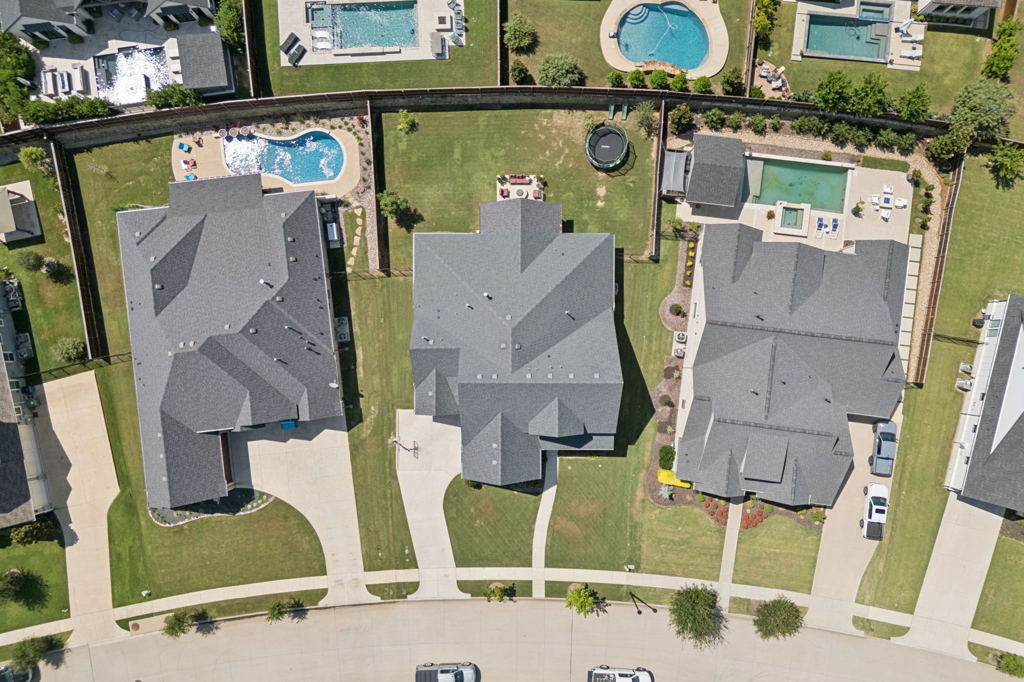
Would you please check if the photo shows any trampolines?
Yes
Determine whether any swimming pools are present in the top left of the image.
Yes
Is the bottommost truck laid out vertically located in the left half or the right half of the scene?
right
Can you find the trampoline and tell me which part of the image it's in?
top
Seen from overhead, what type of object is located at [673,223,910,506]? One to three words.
house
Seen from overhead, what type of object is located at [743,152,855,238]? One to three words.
swimming pool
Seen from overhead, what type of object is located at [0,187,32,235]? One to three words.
building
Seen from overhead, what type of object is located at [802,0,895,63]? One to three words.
swimming pool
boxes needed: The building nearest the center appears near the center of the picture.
[410,198,623,486]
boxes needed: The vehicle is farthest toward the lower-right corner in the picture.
[859,481,891,543]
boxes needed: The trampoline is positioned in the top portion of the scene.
[585,120,628,164]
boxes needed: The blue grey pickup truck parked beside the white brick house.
[867,418,898,479]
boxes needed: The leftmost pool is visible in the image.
[92,44,169,105]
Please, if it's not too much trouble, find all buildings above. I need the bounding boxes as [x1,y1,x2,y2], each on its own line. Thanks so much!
[673,223,910,506]
[410,198,623,486]
[0,187,32,235]
[682,132,743,208]
[938,294,1024,512]
[115,172,343,509]
[916,0,1001,29]
[176,31,235,95]
[0,281,56,528]
[0,0,217,45]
